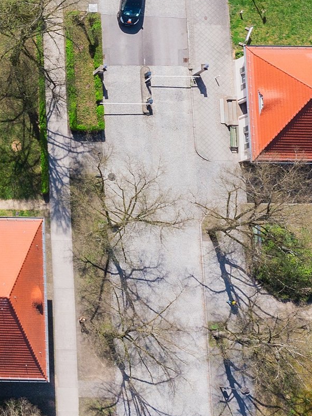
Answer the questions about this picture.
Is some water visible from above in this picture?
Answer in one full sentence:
No, the picture contains no water.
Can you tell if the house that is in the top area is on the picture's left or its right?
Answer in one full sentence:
It is on the right.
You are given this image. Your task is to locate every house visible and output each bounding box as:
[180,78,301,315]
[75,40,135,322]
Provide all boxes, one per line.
[214,45,312,168]
[0,215,52,384]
